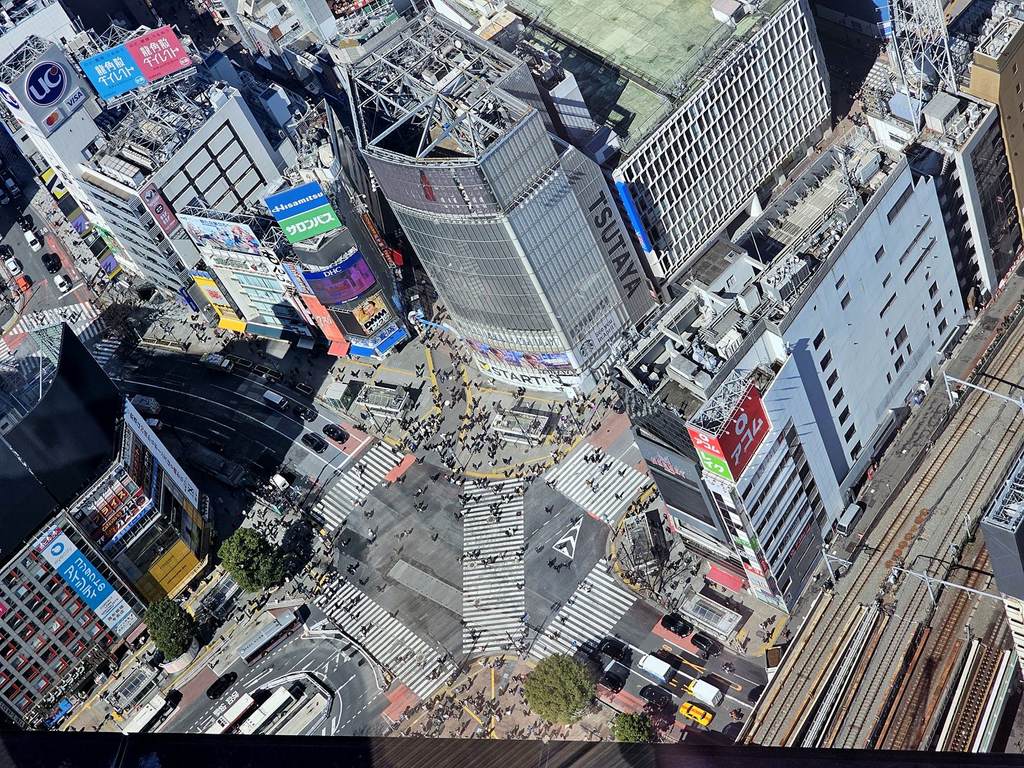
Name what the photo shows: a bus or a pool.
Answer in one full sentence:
There is a bus in the scene.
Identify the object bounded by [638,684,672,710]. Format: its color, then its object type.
black car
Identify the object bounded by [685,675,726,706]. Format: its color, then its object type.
white truck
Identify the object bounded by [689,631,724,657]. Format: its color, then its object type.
black car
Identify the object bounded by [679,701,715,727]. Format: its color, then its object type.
yellow car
